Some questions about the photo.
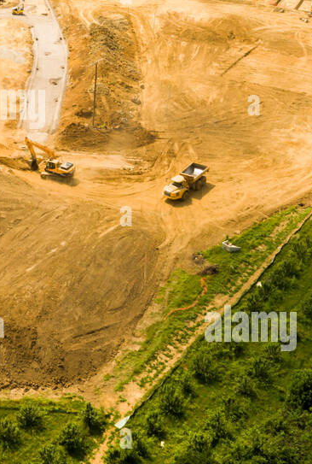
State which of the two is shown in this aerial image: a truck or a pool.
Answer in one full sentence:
There is a truck in the scene.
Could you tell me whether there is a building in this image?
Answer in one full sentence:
No, the scene contains no building.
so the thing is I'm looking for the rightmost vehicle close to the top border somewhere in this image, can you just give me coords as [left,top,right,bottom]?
[12,0,27,14]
